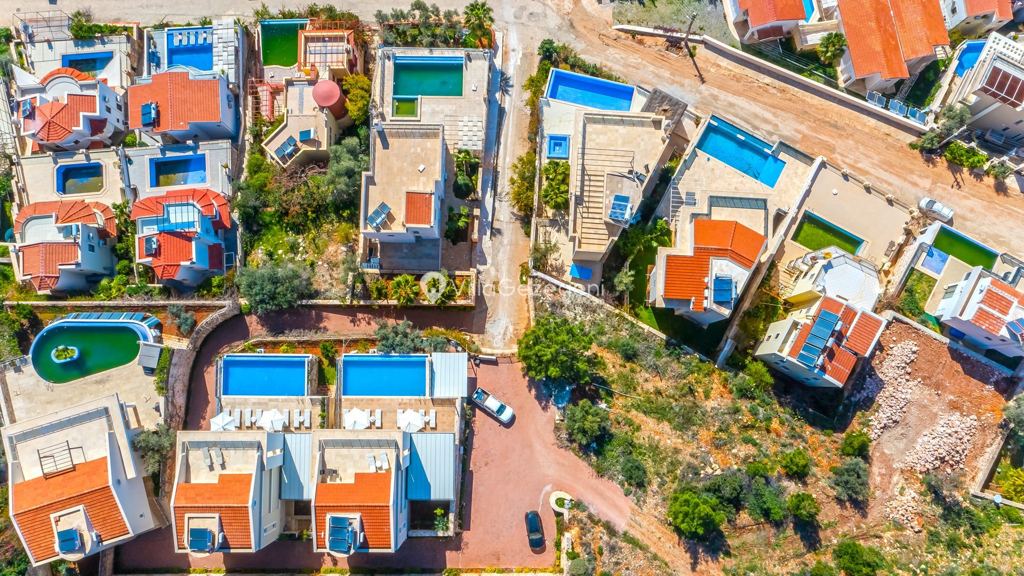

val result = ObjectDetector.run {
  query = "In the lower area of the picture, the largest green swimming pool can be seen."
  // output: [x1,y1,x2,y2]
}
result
[25,319,159,386]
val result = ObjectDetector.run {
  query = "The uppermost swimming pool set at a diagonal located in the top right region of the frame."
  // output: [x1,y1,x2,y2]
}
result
[954,38,989,79]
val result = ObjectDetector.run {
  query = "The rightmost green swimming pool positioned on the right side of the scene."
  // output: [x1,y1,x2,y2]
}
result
[926,221,1003,275]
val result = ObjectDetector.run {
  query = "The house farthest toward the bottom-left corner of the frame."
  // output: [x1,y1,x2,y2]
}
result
[1,393,166,567]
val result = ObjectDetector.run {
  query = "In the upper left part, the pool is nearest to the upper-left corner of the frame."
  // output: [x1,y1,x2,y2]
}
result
[57,47,118,77]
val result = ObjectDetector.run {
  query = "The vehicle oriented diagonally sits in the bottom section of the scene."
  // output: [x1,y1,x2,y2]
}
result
[470,386,517,426]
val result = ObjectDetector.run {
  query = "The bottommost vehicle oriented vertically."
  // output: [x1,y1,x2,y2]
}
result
[525,510,545,553]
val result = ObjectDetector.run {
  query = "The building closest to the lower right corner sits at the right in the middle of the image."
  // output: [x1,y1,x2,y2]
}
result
[923,266,1024,360]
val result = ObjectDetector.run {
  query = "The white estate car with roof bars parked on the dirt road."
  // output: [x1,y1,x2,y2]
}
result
[919,193,963,225]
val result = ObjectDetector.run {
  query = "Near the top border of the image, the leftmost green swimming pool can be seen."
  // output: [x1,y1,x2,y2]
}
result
[258,18,312,69]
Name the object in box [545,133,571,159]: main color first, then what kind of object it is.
blue swimming pool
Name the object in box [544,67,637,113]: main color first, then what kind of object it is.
blue swimming pool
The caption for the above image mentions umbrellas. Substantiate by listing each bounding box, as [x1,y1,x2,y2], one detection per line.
[342,404,372,430]
[397,406,426,433]
[259,405,288,432]
[211,408,237,430]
